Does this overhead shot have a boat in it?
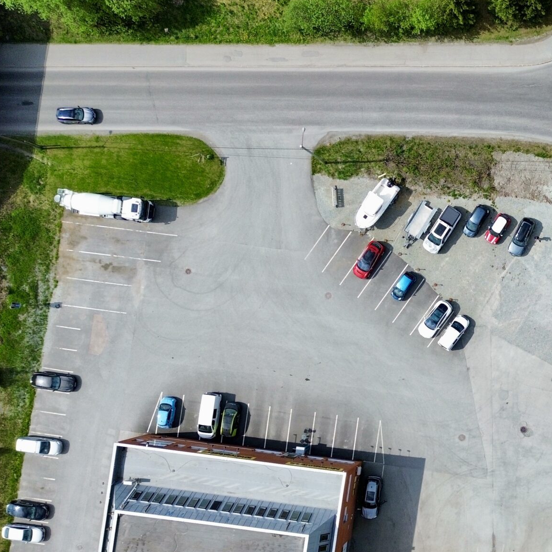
Yes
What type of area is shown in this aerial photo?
parking lot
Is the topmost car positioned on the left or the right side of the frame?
left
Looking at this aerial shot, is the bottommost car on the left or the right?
left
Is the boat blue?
No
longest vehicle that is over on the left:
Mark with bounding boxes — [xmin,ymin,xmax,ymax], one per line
[51,187,155,225]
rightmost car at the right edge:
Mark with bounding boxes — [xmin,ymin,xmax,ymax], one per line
[507,215,537,261]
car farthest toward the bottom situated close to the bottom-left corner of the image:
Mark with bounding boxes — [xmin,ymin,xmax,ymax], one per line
[1,522,48,545]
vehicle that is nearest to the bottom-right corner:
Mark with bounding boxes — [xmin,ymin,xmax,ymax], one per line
[359,477,382,520]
